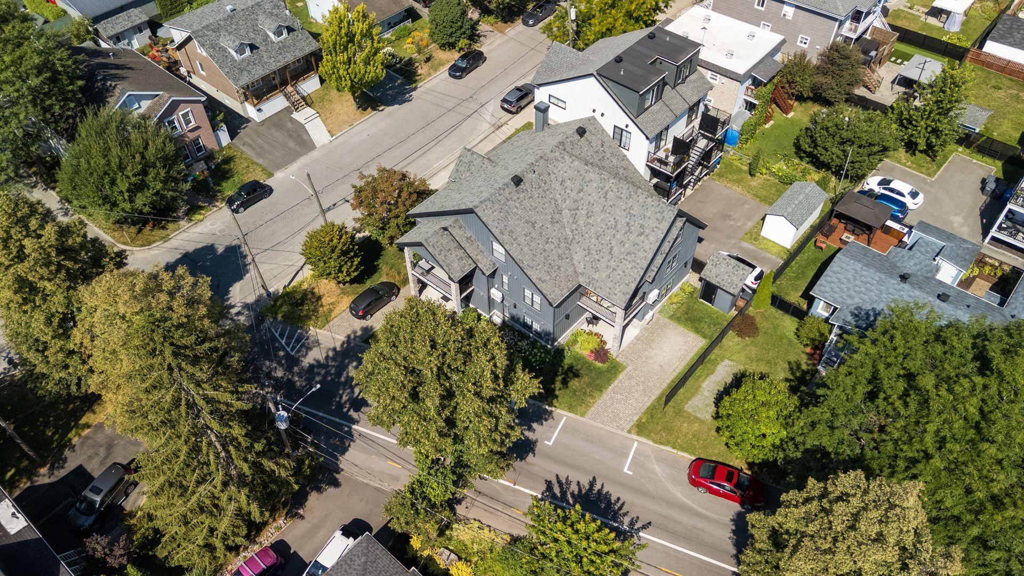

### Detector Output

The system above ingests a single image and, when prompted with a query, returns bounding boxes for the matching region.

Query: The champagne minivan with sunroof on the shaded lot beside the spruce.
[67,464,142,532]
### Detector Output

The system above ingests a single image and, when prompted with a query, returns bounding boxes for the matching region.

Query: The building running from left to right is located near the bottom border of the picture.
[324,532,426,576]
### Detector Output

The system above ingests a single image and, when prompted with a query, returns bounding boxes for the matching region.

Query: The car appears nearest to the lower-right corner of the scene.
[690,460,768,510]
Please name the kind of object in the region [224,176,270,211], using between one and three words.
car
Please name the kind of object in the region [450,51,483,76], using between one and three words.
car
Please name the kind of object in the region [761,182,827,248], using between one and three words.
shed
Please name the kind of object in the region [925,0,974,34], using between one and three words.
gazebo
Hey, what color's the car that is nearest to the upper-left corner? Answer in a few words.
black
